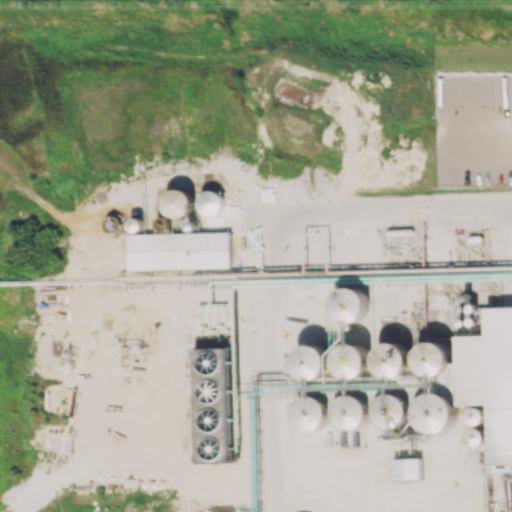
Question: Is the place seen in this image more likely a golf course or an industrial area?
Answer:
industrial area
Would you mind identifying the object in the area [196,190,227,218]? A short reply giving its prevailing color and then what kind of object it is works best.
white storage tank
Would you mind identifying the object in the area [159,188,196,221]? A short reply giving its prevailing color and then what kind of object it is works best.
white storage tank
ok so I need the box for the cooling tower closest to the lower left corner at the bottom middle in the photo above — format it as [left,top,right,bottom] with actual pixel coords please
[190,349,235,464]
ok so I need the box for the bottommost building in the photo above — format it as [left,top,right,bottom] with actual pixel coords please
[390,458,423,482]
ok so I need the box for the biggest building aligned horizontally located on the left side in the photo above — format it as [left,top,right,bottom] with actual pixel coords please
[126,234,232,272]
